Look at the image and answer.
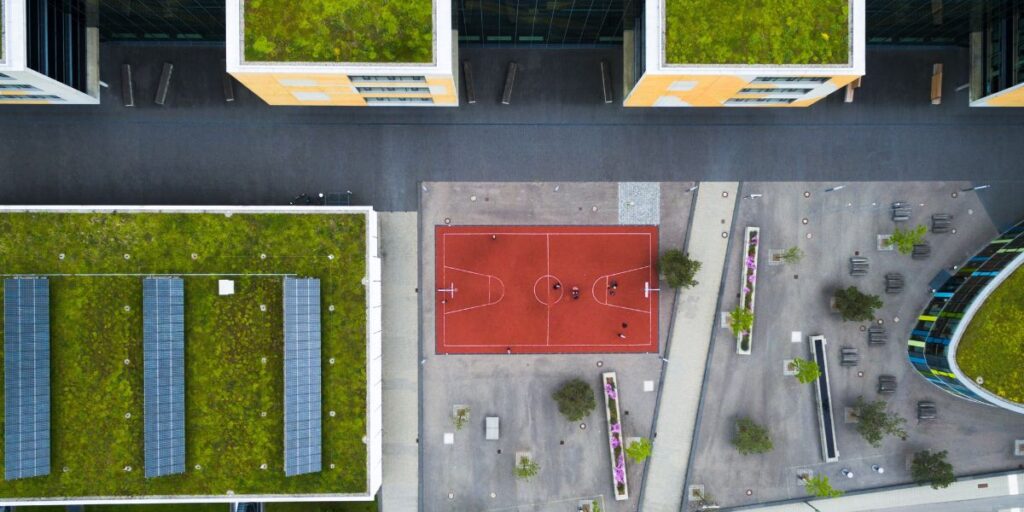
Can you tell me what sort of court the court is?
basketball court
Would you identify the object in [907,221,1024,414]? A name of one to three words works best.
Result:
building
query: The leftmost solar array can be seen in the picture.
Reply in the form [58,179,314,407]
[4,275,52,480]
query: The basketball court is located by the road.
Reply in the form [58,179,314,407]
[435,225,659,355]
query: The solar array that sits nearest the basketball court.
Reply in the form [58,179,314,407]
[282,275,321,480]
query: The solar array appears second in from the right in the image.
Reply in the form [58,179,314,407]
[142,275,186,479]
